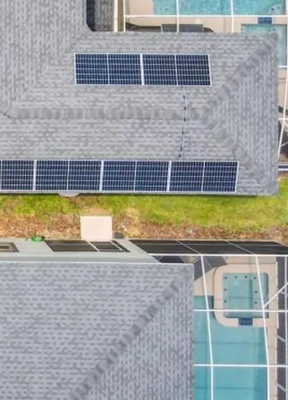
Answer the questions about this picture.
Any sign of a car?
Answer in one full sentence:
No, this view has no car in it.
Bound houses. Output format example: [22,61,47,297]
[0,236,196,400]
[0,0,278,195]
